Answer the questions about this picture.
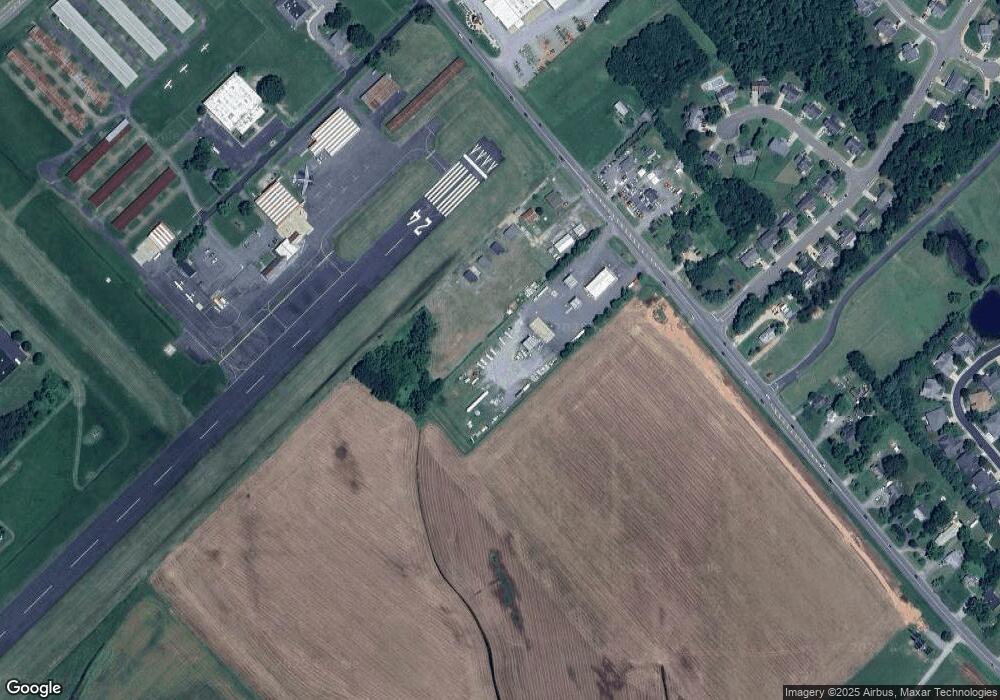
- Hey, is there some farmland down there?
Yes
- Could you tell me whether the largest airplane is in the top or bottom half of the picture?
top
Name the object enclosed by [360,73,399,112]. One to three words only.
hangar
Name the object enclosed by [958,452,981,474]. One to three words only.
house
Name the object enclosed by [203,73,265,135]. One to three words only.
building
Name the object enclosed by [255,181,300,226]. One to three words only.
hangar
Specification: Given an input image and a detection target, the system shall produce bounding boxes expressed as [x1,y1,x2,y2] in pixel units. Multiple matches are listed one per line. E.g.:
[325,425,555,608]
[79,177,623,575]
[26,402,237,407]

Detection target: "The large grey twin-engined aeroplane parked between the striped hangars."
[293,165,312,195]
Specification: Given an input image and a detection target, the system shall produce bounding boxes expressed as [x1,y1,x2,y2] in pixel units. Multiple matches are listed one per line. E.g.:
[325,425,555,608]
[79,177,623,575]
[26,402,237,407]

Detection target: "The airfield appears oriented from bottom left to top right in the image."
[0,69,505,659]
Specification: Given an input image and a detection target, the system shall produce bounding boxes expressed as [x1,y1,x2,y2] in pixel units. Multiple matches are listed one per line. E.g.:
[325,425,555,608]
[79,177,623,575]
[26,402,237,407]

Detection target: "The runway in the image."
[0,142,505,659]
